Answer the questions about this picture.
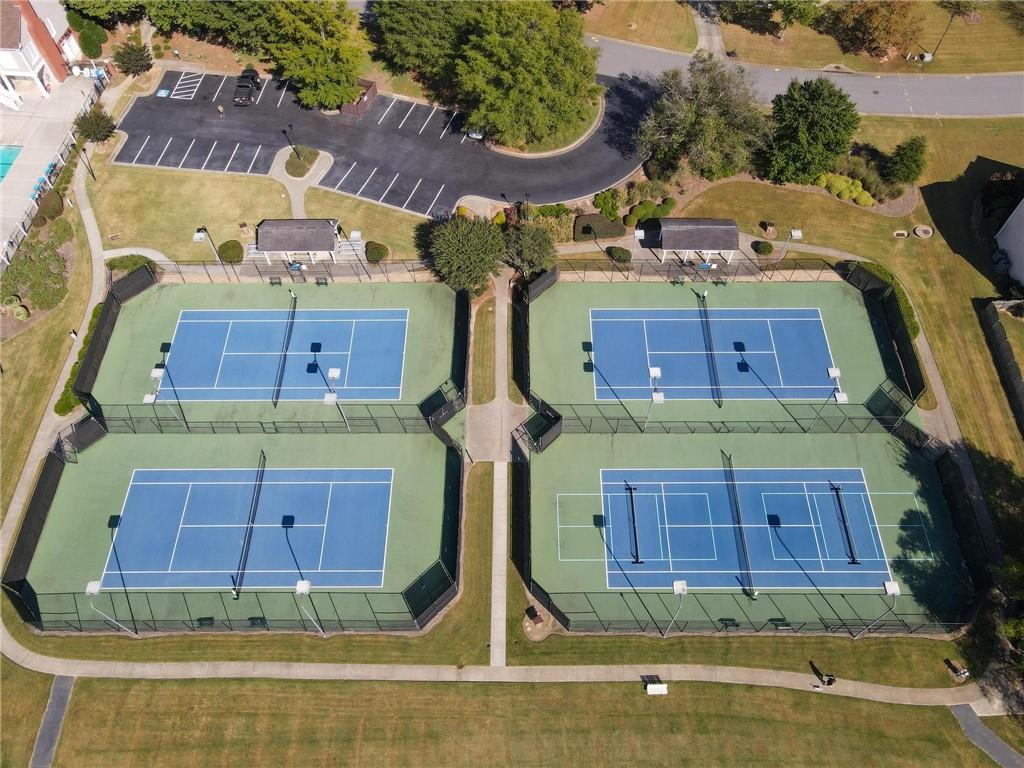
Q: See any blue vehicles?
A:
No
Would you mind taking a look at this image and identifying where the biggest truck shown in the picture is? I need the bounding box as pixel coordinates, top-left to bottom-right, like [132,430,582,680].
[230,72,258,106]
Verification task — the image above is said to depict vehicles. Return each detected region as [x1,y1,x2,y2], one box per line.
[230,72,258,106]
[463,120,482,140]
